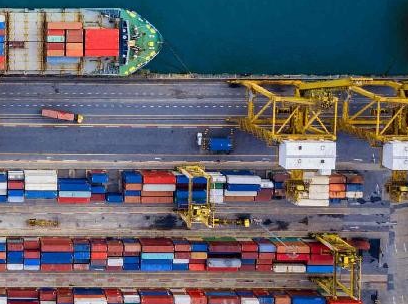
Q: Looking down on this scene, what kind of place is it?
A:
port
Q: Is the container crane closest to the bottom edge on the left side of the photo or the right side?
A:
right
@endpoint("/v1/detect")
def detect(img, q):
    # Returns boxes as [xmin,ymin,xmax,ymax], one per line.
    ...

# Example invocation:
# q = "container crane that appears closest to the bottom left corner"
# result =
[172,162,214,228]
